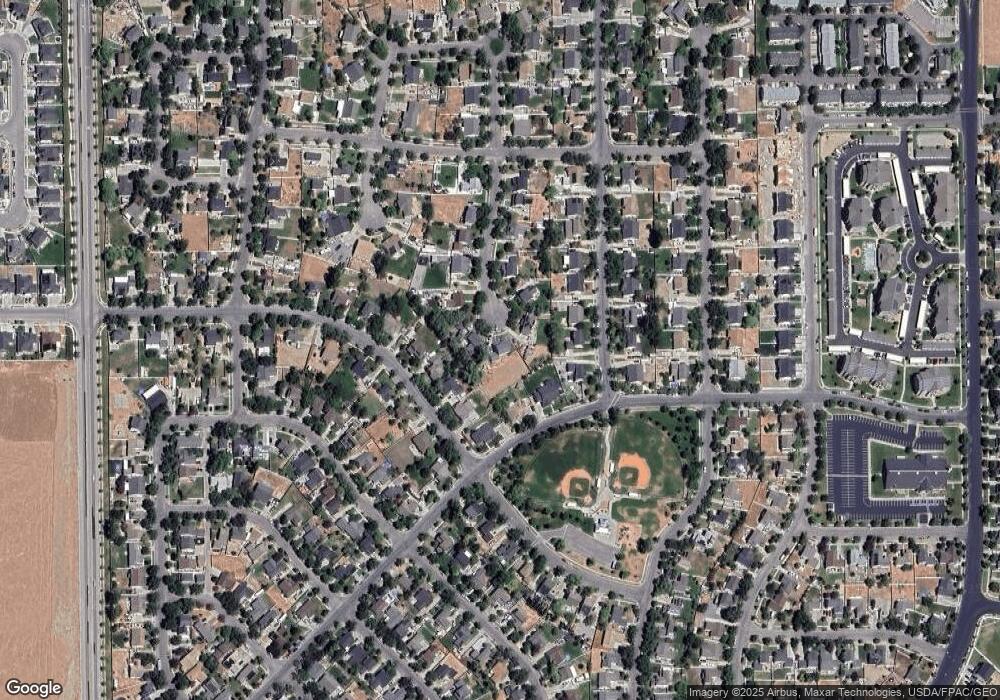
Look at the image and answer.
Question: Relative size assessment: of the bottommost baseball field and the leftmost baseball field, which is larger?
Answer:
the leftmost baseball field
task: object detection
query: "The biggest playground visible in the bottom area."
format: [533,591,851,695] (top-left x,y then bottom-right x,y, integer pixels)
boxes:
[618,521,643,547]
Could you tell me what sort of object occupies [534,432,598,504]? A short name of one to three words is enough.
baseball field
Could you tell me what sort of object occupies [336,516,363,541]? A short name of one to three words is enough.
house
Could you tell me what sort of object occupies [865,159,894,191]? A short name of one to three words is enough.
building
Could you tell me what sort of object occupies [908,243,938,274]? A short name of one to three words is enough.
roundabout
